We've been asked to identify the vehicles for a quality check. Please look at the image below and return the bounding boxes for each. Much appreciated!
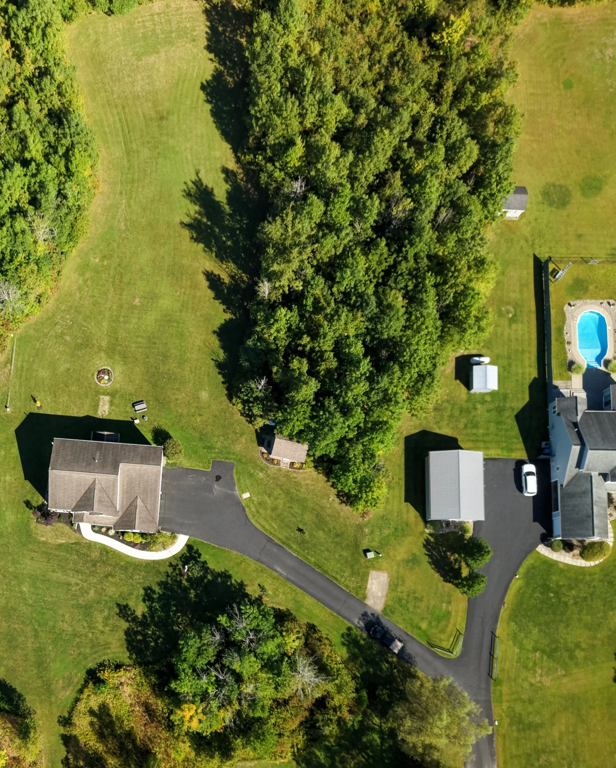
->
[366,619,406,655]
[522,465,540,497]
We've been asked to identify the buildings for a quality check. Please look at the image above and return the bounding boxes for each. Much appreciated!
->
[470,365,499,392]
[550,385,616,540]
[271,432,309,462]
[503,186,533,218]
[46,431,165,534]
[425,450,485,521]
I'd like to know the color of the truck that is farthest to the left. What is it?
black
